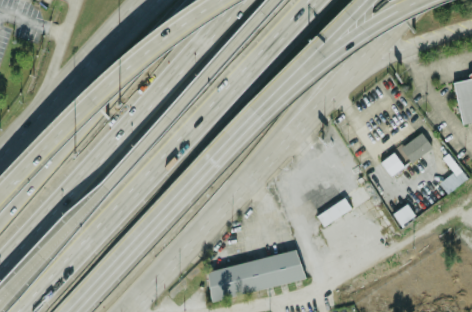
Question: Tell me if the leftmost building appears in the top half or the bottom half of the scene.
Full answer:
You can find the leftmost building in the bottom half.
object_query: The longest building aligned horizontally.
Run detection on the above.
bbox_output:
[208,250,306,300]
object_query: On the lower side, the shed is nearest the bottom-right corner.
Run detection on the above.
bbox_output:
[392,204,416,228]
